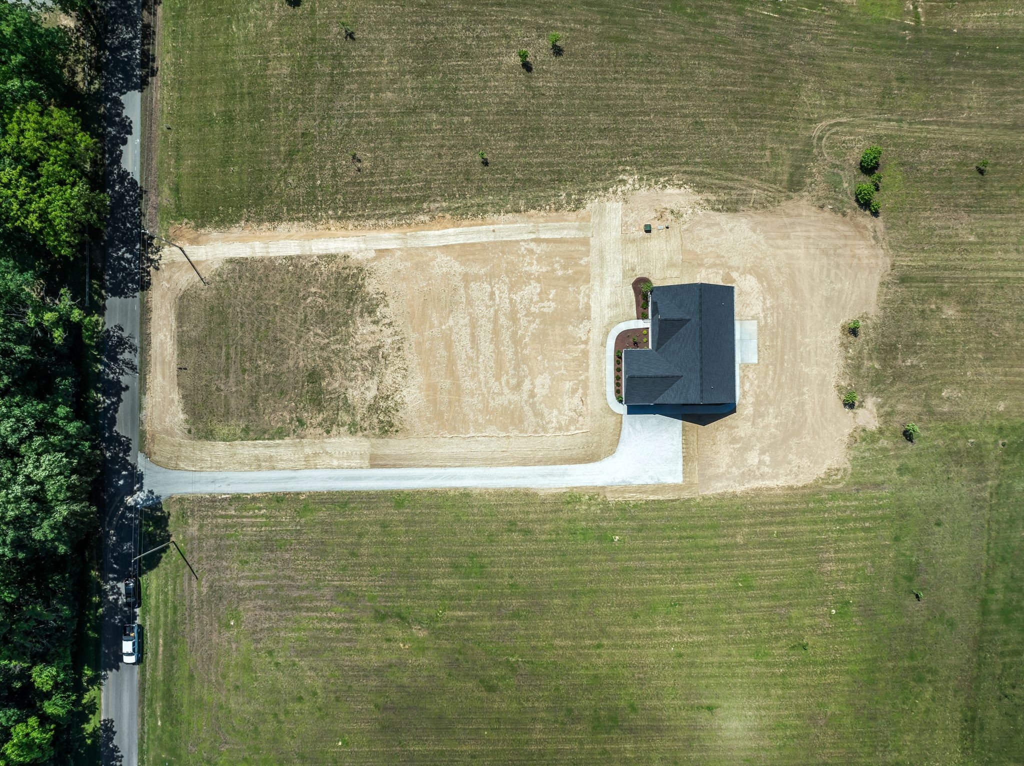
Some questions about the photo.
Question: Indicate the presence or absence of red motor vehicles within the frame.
No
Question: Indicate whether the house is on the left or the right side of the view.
right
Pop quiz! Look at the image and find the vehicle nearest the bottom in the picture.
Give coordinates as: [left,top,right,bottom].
[121,623,142,666]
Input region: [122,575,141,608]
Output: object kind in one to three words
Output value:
car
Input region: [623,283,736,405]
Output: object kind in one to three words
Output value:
house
